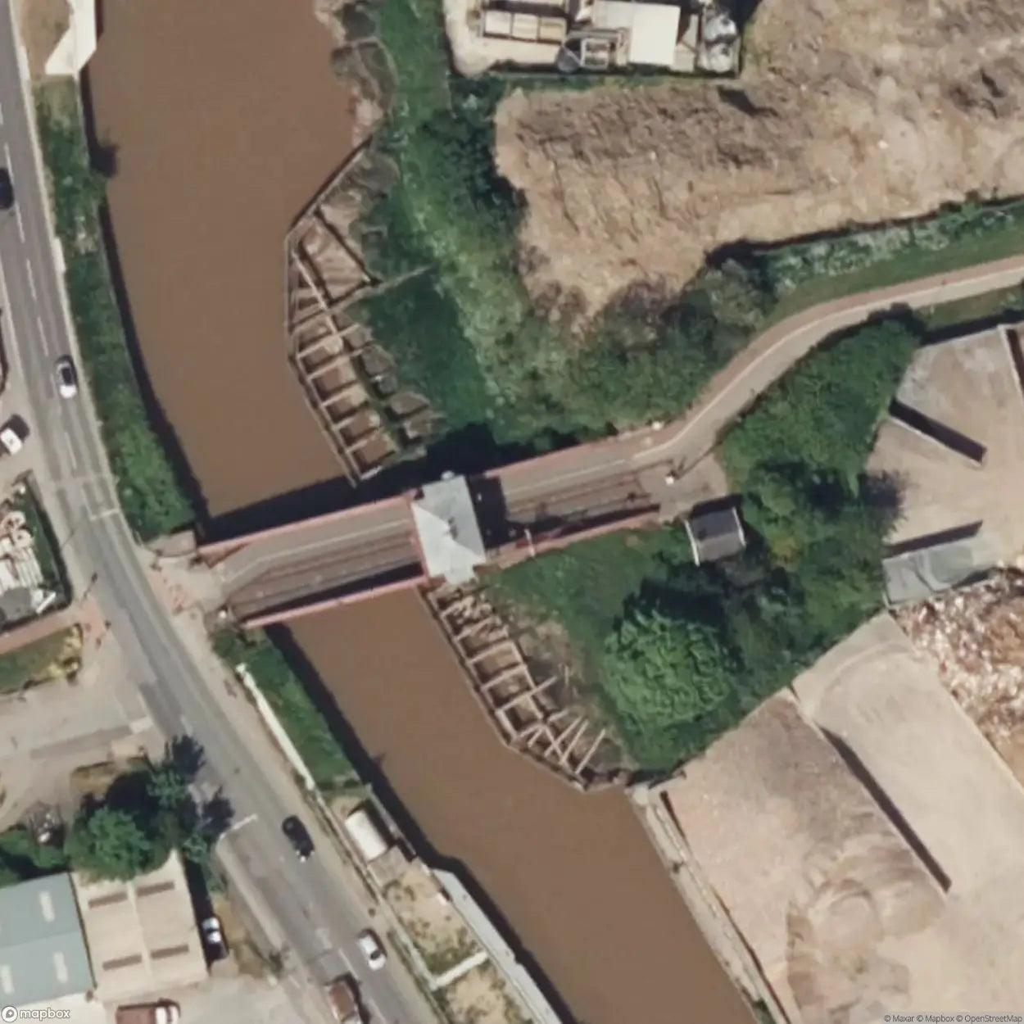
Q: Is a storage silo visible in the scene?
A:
Yes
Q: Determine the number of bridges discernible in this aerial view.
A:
1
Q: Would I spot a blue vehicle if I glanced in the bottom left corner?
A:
No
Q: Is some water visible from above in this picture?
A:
Yes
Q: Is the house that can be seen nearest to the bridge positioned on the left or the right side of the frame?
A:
right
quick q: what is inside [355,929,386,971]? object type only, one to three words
car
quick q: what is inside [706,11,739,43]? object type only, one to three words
silo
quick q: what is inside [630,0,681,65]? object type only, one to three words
shed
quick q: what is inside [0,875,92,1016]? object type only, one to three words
building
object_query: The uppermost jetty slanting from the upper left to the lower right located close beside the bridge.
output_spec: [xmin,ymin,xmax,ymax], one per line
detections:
[417,582,626,793]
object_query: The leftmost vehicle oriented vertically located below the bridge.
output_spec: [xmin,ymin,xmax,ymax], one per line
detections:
[203,917,224,959]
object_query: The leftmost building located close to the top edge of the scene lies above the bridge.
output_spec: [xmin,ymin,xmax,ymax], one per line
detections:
[592,0,634,29]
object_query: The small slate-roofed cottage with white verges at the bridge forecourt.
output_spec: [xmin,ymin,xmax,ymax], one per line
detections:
[686,506,749,564]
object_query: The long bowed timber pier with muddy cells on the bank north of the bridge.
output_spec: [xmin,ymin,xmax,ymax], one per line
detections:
[285,134,444,489]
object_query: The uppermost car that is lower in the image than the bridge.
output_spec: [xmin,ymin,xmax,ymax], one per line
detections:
[281,816,315,860]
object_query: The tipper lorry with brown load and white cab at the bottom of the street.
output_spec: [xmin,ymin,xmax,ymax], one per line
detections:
[326,978,369,1024]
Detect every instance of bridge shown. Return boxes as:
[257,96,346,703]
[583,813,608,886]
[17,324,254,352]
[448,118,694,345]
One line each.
[200,427,660,626]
